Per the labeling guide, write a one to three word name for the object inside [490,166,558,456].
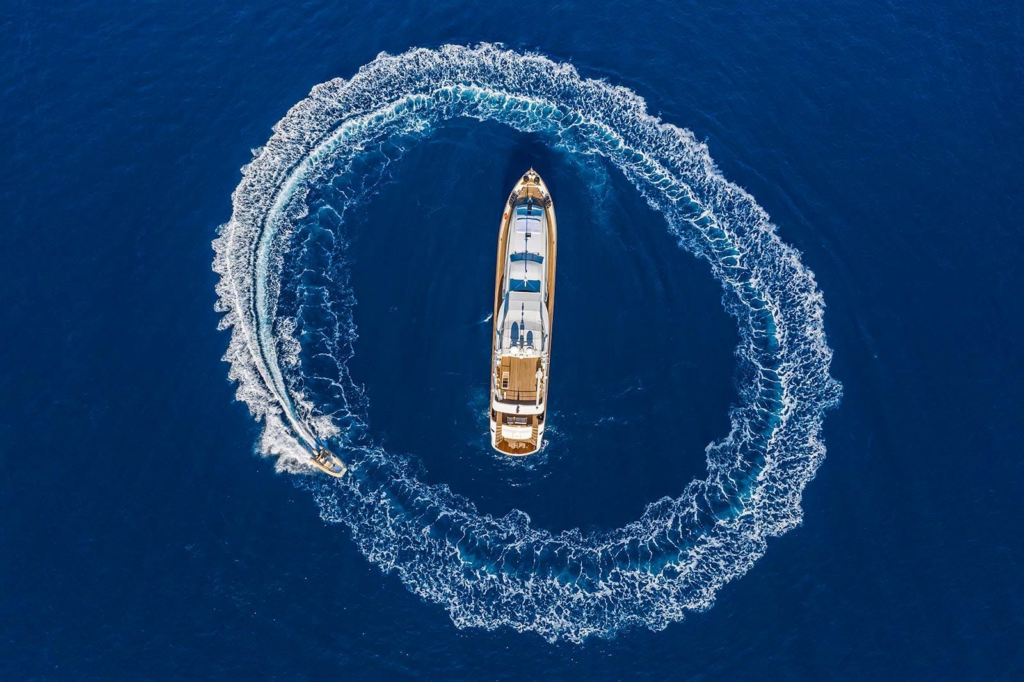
boat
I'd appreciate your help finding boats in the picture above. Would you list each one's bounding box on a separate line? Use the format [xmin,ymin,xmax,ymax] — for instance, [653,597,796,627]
[311,444,347,475]
[490,166,558,456]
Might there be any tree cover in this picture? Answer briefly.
No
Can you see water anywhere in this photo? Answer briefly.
Yes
